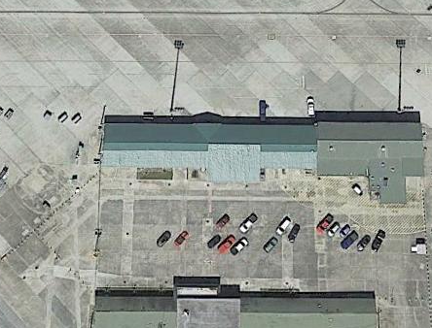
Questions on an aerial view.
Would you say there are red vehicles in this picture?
Yes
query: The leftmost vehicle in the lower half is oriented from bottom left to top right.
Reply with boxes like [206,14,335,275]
[156,231,173,247]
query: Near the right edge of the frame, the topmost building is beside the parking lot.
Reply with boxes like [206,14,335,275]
[315,122,424,203]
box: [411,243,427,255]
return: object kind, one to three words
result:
vehicle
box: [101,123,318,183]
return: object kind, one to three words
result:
building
